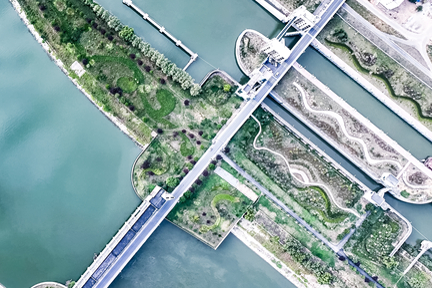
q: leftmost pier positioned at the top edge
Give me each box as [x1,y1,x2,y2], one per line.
[122,0,198,71]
